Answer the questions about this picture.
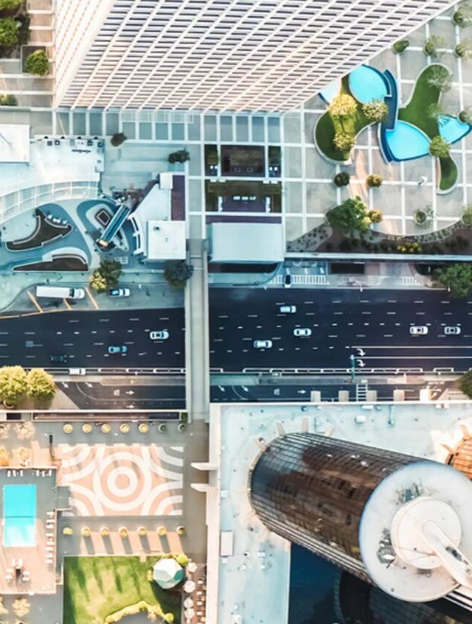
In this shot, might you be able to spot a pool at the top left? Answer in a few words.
No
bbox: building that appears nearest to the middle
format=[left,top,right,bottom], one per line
[206,222,285,261]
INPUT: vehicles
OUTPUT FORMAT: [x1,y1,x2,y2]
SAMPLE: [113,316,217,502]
[283,271,292,288]
[108,289,130,296]
[36,288,83,298]
[254,340,271,348]
[66,368,87,375]
[109,345,125,354]
[293,329,310,336]
[443,326,461,334]
[150,331,167,340]
[409,326,428,334]
[278,305,296,314]
[50,354,67,362]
